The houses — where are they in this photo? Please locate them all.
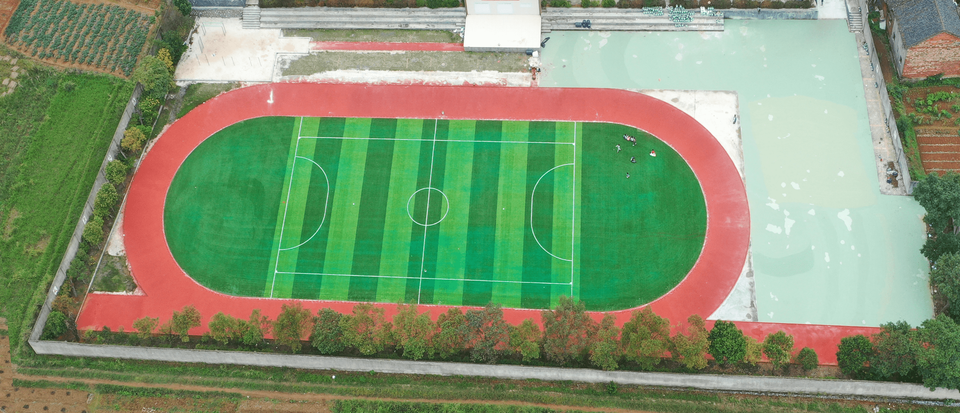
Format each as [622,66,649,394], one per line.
[878,0,960,78]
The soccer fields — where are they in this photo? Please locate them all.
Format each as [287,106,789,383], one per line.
[164,116,707,312]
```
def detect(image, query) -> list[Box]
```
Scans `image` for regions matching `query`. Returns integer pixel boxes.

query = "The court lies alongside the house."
[538,18,933,327]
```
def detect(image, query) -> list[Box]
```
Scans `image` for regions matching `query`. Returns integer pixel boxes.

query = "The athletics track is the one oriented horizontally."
[77,82,916,365]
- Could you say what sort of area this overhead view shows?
sports ground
